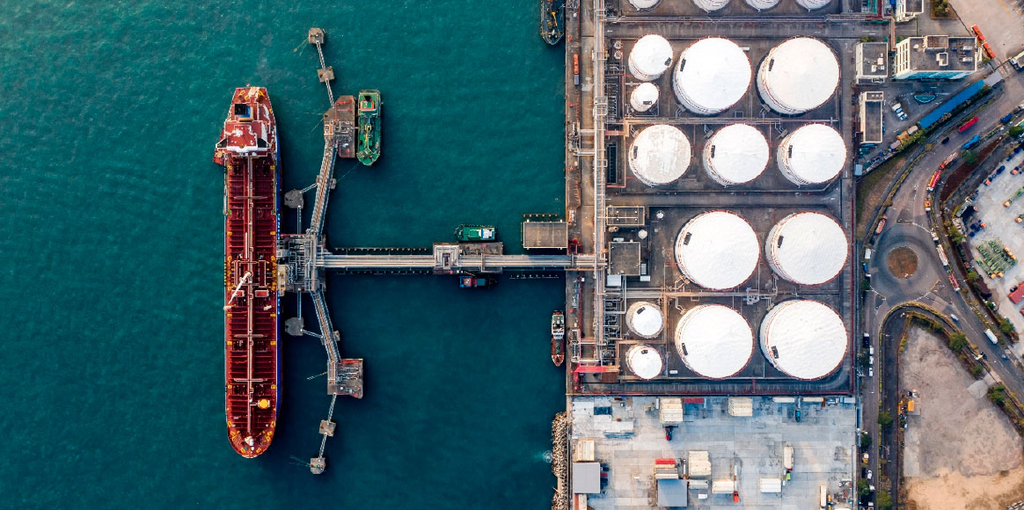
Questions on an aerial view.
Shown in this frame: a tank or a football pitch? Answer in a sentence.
Visible in the photo is a tank.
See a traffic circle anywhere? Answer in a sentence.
Yes, I can see a traffic circle in this picture.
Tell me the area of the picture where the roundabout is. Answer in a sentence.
Look in the right portion of the view to spot the roundabout.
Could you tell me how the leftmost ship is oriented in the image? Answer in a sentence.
From this overhead view, the leftmost ship appears to run from top to bottom.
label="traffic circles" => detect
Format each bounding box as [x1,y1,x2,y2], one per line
[868,228,937,296]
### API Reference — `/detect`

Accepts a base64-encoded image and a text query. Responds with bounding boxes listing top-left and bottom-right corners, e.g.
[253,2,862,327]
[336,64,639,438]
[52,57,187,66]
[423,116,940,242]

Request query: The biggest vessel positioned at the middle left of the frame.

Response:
[213,84,282,458]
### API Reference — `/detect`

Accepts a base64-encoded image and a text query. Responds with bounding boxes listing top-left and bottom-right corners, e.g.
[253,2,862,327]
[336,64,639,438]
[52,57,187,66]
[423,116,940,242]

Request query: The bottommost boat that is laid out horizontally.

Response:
[460,270,498,289]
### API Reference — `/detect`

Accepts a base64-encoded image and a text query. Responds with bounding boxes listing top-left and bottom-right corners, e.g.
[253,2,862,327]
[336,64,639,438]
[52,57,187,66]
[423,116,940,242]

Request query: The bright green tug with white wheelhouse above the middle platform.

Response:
[454,223,498,242]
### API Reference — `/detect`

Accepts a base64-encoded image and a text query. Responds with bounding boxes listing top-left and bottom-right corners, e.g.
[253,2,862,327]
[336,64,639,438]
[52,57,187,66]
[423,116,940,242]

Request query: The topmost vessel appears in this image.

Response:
[541,0,564,45]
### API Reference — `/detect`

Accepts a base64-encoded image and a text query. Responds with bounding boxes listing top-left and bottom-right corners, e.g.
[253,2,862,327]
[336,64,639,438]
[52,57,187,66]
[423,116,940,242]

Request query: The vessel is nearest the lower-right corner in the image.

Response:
[551,311,565,366]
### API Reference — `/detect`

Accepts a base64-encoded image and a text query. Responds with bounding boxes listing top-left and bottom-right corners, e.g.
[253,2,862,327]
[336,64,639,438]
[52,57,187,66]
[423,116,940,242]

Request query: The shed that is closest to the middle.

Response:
[520,219,568,250]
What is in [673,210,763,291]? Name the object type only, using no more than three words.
storage tank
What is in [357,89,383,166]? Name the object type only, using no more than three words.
ship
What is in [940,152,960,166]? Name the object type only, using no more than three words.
vehicle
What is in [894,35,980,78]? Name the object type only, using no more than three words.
building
